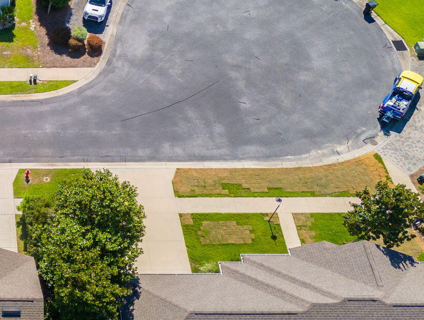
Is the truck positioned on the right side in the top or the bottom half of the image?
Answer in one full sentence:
It is in the top half that the truck positioned on the right side appears.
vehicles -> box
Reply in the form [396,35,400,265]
[374,71,423,124]
[83,0,114,25]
